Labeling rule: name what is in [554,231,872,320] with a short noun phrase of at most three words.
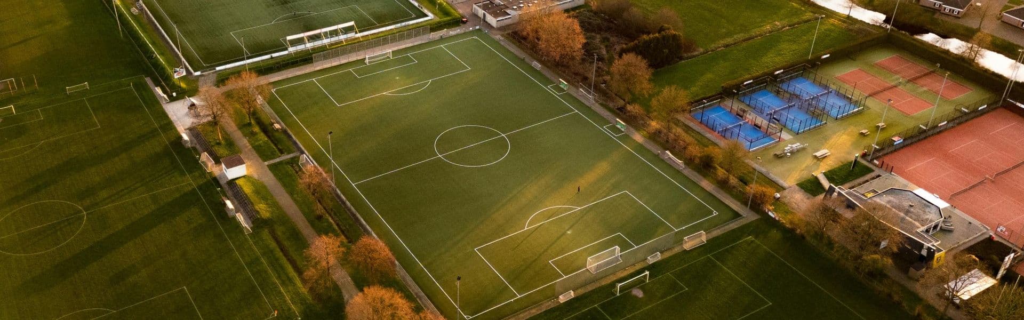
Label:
soccer field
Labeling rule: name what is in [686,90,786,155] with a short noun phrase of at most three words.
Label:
sports court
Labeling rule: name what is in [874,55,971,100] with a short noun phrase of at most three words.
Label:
tennis court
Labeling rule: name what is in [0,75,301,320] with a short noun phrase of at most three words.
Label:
soccer field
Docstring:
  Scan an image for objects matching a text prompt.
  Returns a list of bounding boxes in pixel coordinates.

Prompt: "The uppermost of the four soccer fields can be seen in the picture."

[144,0,427,72]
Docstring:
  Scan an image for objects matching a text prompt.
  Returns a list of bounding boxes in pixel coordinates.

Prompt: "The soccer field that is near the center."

[256,29,743,320]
